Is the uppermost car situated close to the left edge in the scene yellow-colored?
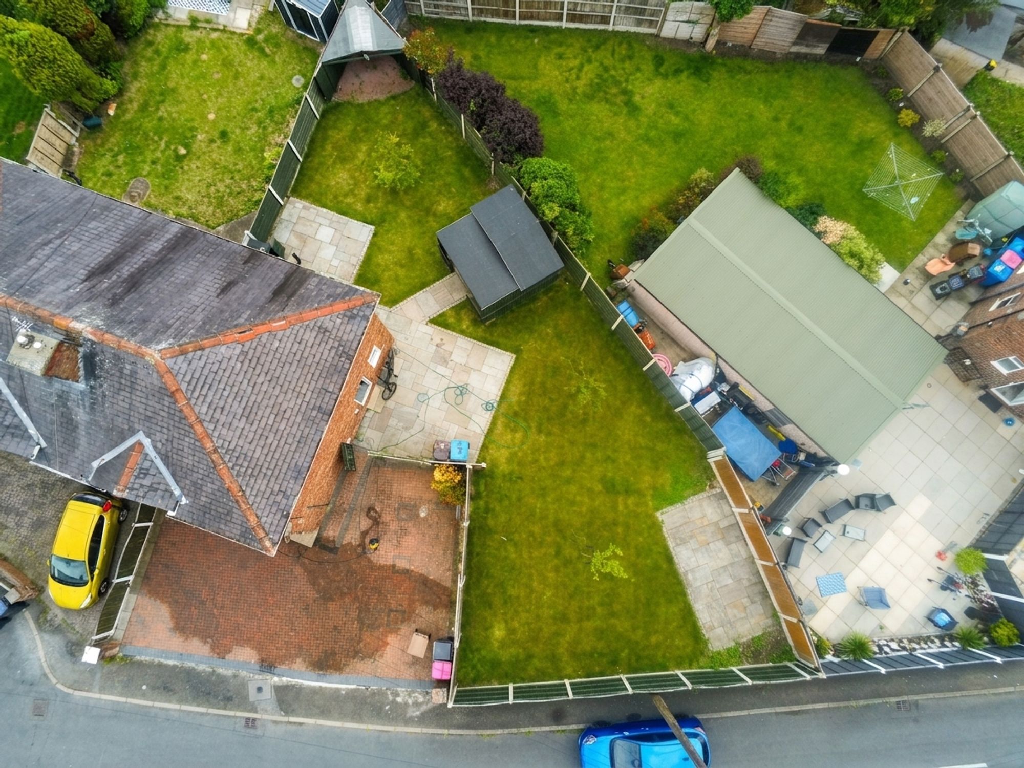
Yes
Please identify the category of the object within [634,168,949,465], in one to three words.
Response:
building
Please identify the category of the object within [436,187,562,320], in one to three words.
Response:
shed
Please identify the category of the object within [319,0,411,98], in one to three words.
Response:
shed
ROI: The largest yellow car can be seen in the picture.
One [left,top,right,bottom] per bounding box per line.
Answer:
[48,493,127,606]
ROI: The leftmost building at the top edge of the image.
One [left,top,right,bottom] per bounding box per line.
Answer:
[272,0,339,44]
